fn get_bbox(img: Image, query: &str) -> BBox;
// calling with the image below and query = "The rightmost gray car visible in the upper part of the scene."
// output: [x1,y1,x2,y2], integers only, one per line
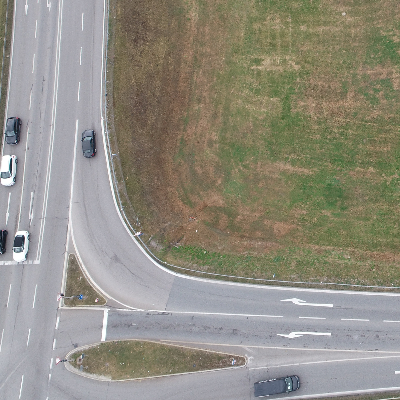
[81,130,97,158]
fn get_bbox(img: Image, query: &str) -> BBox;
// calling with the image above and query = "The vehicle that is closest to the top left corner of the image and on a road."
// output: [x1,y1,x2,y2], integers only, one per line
[4,117,22,145]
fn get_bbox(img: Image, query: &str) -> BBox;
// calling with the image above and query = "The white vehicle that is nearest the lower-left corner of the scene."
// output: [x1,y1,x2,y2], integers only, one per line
[11,231,30,263]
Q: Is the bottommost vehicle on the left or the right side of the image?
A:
right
